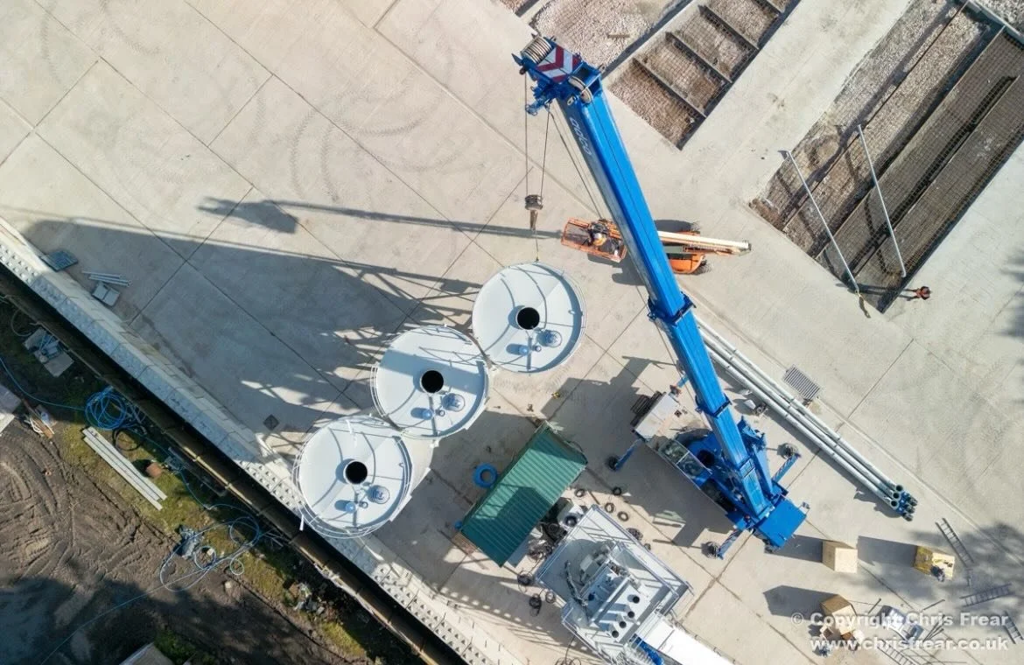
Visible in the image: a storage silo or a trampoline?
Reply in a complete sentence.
It is a storage silo that can be seen here.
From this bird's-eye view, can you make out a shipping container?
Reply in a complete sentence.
Yes, the photo shows a shipping container.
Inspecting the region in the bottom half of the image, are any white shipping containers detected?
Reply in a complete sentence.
No, no white shipping container appears in the bottom half of the image.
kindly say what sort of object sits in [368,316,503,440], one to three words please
silo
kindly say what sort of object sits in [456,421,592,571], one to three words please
shipping container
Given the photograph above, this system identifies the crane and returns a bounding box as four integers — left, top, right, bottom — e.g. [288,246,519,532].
[511,33,816,556]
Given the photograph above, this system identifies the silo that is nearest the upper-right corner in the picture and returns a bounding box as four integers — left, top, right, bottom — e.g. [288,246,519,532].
[471,248,586,378]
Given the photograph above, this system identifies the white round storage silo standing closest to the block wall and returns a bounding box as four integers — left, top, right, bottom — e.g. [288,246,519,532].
[287,407,449,536]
